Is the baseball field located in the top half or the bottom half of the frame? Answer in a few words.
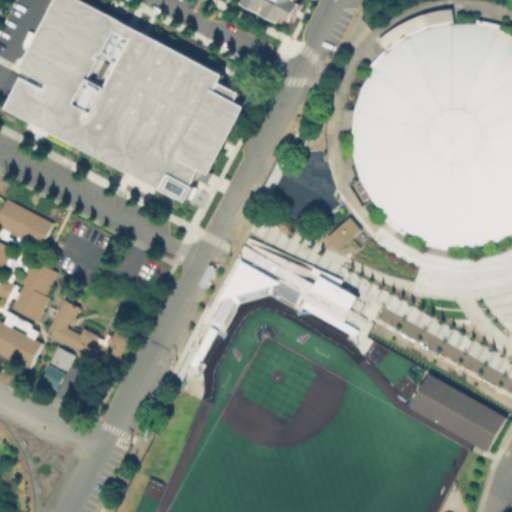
bottom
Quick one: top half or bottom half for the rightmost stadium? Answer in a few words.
top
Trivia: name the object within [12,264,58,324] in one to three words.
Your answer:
house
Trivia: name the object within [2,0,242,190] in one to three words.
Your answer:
building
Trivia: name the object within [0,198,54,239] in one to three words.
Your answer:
house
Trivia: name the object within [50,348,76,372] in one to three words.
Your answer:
building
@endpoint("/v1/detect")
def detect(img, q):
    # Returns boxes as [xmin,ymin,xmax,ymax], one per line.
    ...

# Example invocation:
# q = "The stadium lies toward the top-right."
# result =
[347,25,512,248]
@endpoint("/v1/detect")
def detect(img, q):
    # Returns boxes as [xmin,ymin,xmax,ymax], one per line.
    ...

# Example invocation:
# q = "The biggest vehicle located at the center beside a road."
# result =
[200,264,216,288]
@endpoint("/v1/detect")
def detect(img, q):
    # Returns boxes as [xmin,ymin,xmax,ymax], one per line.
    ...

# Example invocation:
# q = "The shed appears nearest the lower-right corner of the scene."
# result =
[410,374,507,452]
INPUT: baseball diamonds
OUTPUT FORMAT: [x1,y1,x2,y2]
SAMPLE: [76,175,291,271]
[157,297,484,512]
